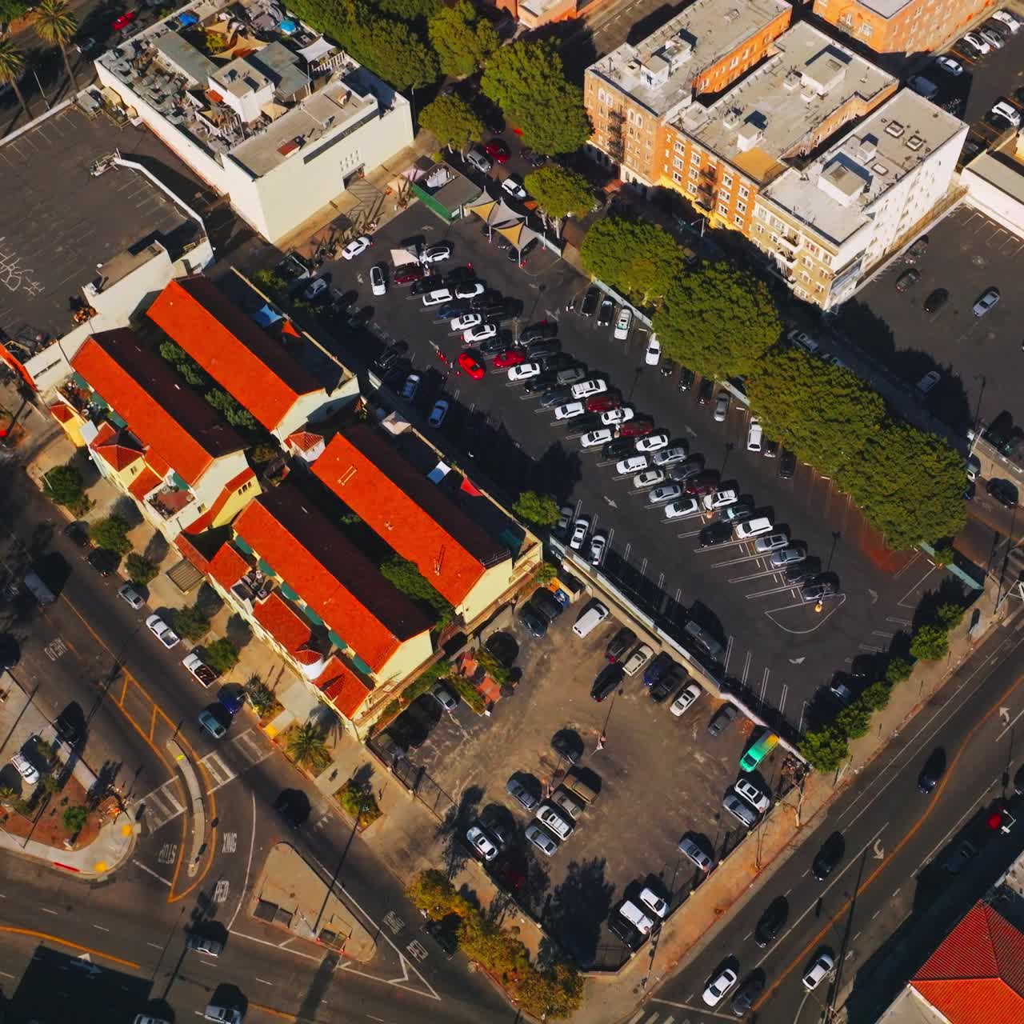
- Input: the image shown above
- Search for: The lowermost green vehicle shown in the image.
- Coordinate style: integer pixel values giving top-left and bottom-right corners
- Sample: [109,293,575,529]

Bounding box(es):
[742,732,777,772]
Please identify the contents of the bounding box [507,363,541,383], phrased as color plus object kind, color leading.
white car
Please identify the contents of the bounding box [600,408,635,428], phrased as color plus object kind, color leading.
white car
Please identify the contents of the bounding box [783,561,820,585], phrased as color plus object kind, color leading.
black car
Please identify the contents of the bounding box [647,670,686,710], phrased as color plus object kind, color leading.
black vehicle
